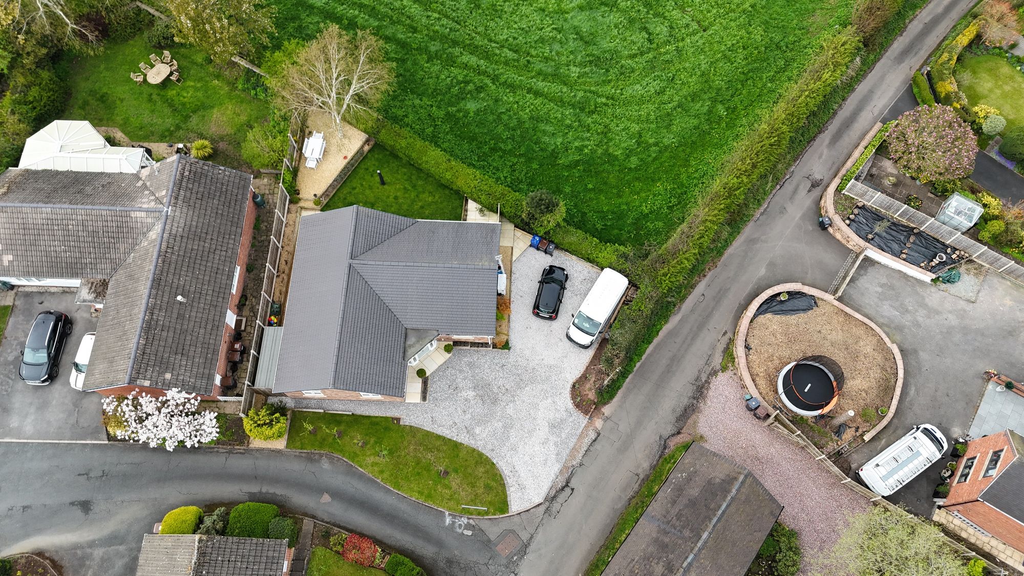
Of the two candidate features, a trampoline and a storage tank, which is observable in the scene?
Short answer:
trampoline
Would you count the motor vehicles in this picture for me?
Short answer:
5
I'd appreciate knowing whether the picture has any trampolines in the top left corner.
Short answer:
No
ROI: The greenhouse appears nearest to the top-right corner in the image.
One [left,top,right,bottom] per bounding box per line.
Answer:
[931,192,982,239]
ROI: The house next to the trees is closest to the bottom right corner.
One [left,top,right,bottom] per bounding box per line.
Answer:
[931,424,1024,550]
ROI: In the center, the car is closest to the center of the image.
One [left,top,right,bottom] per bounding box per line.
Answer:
[531,266,570,324]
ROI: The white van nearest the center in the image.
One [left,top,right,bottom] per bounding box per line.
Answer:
[569,270,627,354]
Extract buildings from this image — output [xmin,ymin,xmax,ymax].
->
[599,441,785,576]
[931,192,982,239]
[272,204,501,404]
[931,424,1024,550]
[136,534,295,576]
[0,153,259,402]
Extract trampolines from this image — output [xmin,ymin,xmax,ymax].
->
[772,352,847,424]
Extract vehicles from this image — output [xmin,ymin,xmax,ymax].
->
[65,331,95,392]
[22,312,76,386]
[531,266,570,324]
[849,424,943,501]
[569,270,627,354]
